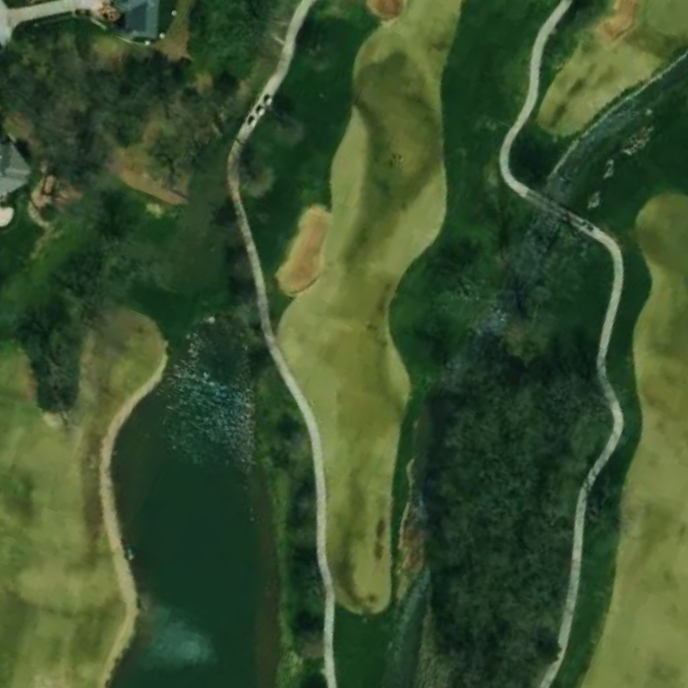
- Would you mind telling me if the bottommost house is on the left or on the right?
left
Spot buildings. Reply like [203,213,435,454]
[114,0,162,38]
[0,143,30,205]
